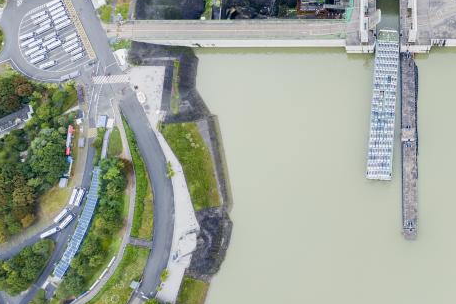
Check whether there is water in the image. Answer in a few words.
Yes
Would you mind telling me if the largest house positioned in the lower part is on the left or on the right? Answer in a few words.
left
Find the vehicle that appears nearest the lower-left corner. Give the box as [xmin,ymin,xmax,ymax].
[41,225,59,239]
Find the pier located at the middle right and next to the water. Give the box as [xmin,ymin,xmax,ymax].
[402,54,417,240]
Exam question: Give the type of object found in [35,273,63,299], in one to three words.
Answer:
house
